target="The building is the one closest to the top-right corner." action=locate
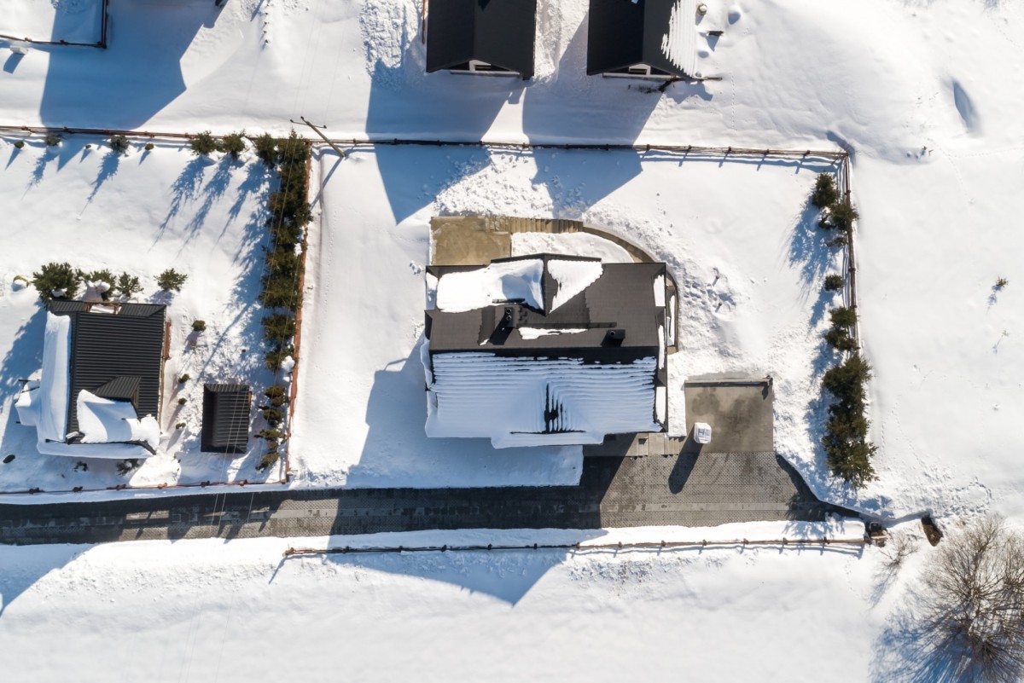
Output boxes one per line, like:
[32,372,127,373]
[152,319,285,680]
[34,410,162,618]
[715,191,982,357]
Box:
[587,0,698,81]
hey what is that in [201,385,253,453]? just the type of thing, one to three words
shed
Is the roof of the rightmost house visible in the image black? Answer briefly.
Yes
